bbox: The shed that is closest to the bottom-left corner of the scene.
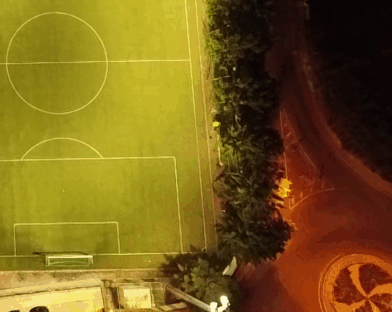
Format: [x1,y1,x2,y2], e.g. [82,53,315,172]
[120,286,153,309]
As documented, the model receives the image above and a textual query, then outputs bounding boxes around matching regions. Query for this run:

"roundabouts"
[321,251,392,312]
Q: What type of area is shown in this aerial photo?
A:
sports ground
